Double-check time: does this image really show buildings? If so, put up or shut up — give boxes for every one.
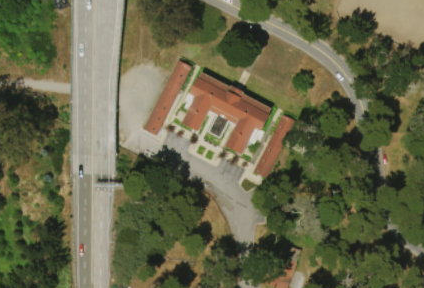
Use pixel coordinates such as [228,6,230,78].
[146,61,192,134]
[183,72,272,153]
[254,114,293,177]
[267,250,302,288]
